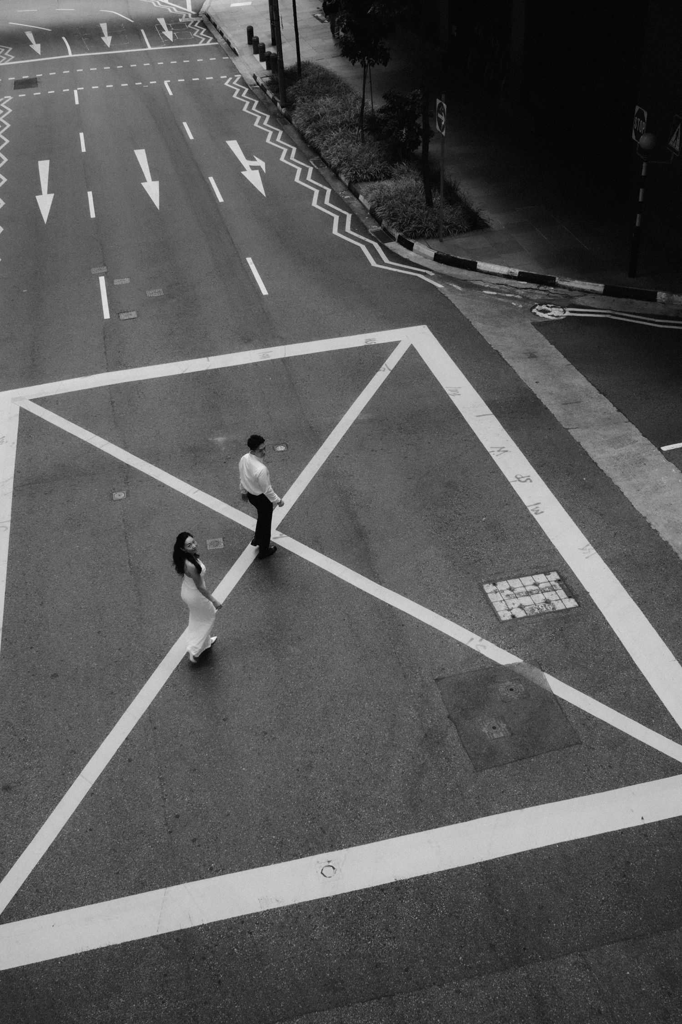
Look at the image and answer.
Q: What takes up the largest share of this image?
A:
paved ground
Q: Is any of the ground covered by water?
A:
No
